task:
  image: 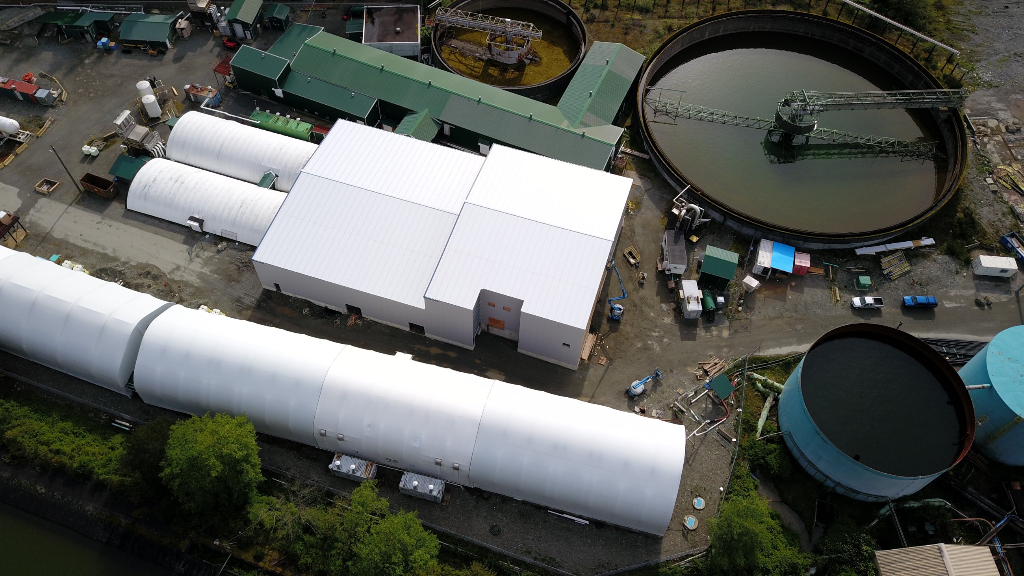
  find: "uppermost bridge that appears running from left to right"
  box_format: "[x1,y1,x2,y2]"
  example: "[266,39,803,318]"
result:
[420,7,542,40]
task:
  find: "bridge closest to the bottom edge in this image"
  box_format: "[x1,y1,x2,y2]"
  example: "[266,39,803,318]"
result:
[648,88,967,165]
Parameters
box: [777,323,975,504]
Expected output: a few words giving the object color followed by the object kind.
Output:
black storage tank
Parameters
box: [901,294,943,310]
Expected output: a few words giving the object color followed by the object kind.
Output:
blue vehicle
